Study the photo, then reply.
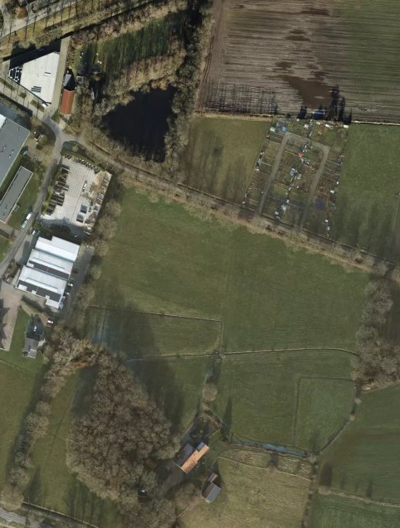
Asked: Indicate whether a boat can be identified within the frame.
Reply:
No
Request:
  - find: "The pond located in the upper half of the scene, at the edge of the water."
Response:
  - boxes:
[99,85,178,164]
